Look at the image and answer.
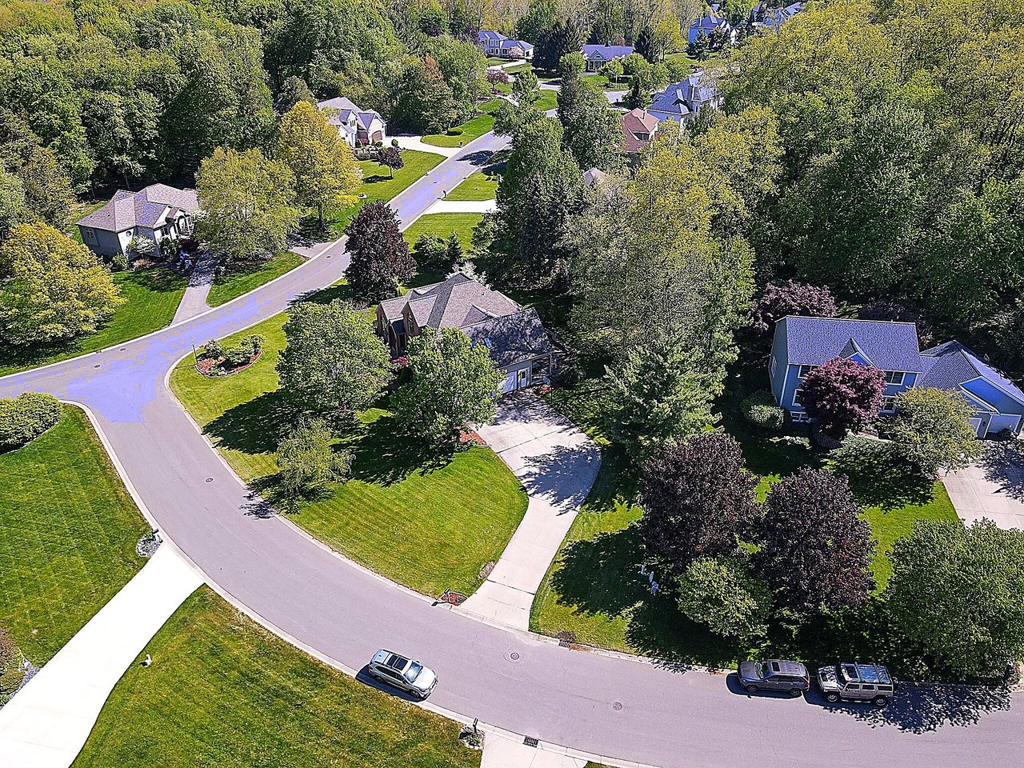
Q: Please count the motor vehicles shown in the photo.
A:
3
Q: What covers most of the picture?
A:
trees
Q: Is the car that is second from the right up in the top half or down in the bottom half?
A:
bottom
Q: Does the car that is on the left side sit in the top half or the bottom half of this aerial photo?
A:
bottom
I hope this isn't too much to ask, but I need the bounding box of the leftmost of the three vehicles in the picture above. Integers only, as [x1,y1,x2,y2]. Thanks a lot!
[368,646,439,696]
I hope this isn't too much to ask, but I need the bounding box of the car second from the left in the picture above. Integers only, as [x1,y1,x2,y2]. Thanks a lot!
[735,657,815,697]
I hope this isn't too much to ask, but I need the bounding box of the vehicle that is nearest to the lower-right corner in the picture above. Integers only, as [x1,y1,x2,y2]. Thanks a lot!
[816,662,898,707]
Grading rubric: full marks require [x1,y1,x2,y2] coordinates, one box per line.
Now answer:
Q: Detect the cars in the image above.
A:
[735,657,815,697]
[816,662,898,707]
[368,646,439,696]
